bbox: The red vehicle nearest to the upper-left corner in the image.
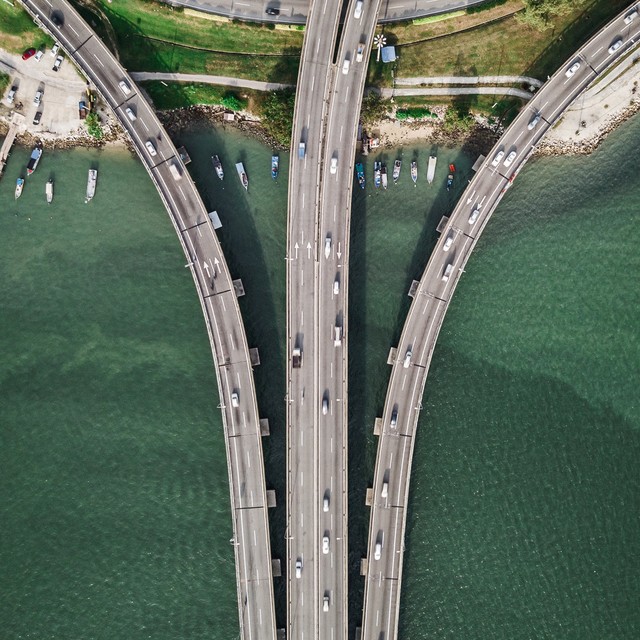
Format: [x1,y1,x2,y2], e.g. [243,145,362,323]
[21,47,38,61]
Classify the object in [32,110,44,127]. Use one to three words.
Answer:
vehicle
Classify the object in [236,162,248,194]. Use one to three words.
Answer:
boat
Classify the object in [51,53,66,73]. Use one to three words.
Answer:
vehicle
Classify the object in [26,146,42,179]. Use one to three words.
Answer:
boat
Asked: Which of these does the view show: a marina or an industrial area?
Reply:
marina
